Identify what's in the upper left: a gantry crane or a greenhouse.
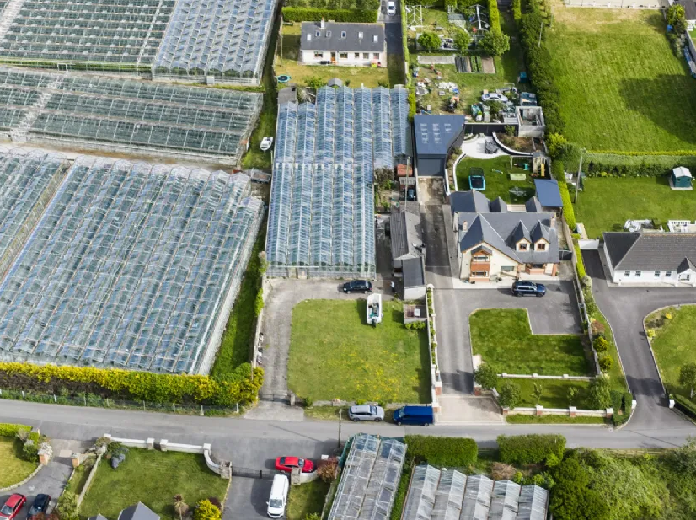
greenhouse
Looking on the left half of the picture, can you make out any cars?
Yes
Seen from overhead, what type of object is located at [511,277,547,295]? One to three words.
car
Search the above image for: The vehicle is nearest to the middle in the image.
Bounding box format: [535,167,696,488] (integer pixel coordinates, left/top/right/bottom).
[340,277,370,293]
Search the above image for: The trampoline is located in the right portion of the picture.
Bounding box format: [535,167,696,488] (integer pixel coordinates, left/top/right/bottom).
[469,167,488,187]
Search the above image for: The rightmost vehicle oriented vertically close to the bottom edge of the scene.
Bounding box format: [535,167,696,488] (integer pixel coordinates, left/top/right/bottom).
[267,468,286,515]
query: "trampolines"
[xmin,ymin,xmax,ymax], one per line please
[469,167,488,187]
[275,73,292,81]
